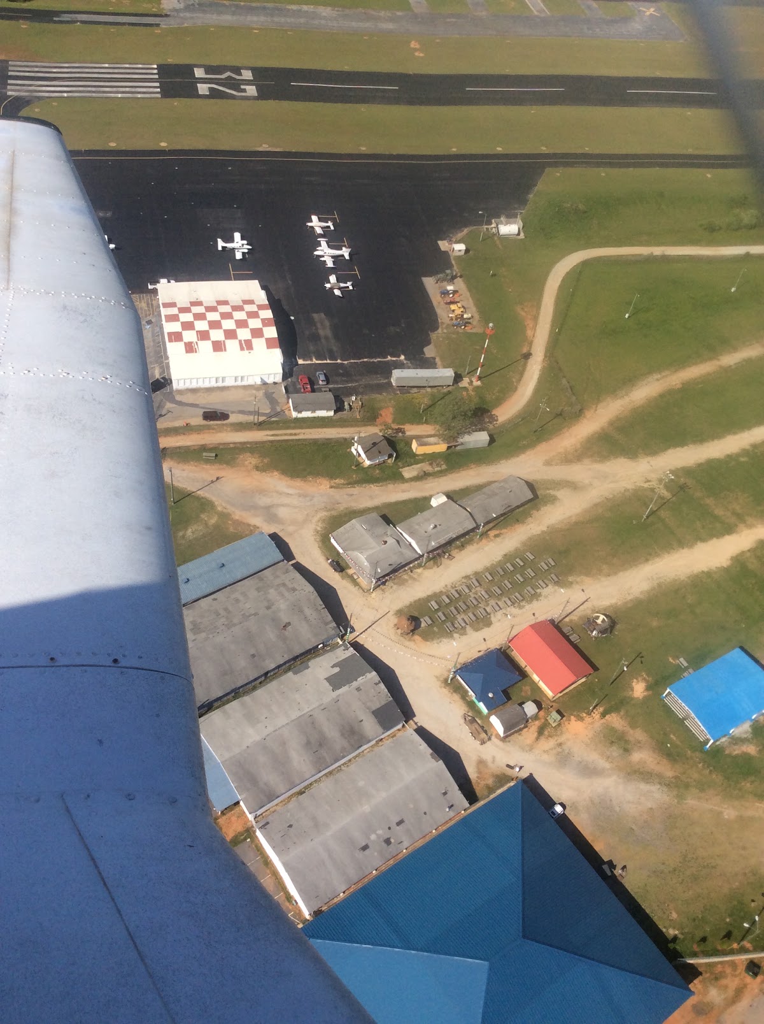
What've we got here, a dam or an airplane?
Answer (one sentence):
I can see an airplane in this picture.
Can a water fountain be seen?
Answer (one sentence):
No, the frame has no water fountain in it.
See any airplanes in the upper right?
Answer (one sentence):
No, I can find no airplane in the upper right.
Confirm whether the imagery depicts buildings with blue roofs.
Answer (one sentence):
Yes, a building with a blue roof is visible in the scene.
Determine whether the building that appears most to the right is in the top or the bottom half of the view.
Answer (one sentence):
The bottom half of the photo is where the building that appears most to the right is.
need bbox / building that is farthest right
[656,647,764,754]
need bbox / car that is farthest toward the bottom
[546,801,567,819]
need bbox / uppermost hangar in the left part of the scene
[162,278,285,388]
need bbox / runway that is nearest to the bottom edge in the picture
[0,60,764,111]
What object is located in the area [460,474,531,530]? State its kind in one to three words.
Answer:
house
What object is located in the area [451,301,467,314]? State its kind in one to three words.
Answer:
vehicle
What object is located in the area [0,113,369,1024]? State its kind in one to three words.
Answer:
airplane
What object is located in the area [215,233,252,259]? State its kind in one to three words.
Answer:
airplane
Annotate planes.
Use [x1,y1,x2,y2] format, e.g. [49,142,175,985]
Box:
[306,216,335,235]
[314,240,352,267]
[215,233,252,259]
[324,274,353,297]
[0,113,369,1024]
